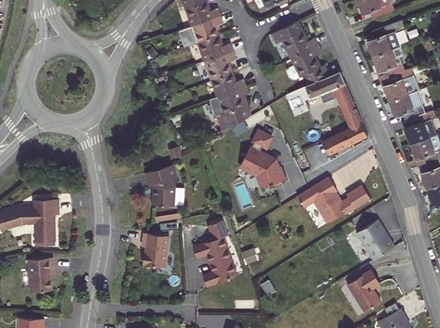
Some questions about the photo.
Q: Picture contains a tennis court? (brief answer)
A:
No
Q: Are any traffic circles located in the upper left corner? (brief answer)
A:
Yes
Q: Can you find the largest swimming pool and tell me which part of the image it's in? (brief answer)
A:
center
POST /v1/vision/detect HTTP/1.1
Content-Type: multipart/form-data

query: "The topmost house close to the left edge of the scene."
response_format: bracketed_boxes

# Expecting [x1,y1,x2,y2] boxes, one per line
[0,199,60,246]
